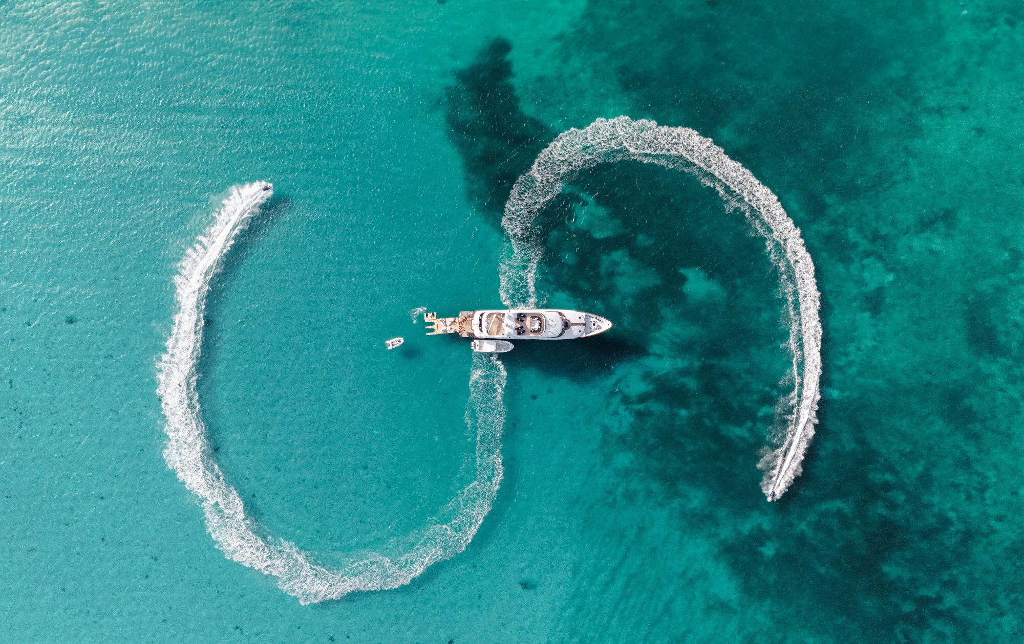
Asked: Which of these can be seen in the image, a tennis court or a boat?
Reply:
boat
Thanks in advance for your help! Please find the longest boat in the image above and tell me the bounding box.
[459,309,613,340]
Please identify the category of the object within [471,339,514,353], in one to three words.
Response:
boat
